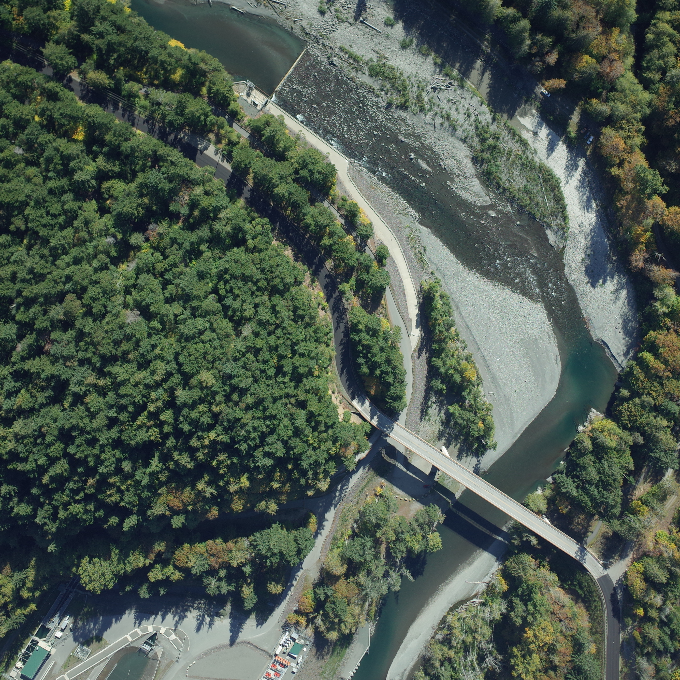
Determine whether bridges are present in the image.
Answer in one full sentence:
Yes, there is a bridge in the image.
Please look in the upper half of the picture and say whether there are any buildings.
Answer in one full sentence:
No, the scene shows no building in the upper half of the picture.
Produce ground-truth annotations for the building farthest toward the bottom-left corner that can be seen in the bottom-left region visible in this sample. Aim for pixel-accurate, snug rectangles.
[20,643,53,679]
